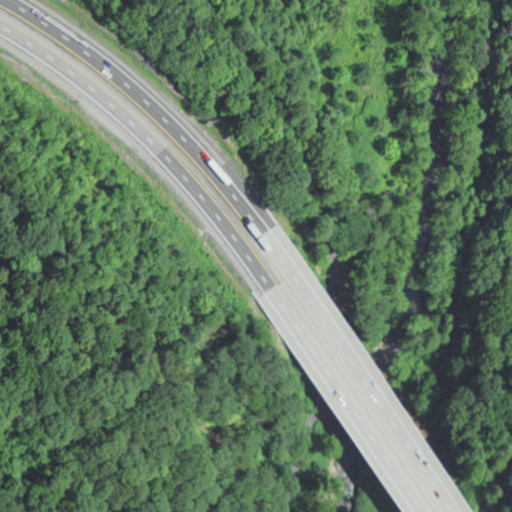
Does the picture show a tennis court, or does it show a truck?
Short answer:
truck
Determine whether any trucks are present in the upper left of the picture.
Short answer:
Yes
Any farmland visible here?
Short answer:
No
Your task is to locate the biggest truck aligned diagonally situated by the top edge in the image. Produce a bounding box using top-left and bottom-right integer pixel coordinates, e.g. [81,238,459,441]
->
[35,10,78,41]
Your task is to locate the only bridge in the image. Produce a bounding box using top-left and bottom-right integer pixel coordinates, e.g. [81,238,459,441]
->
[250,208,474,512]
